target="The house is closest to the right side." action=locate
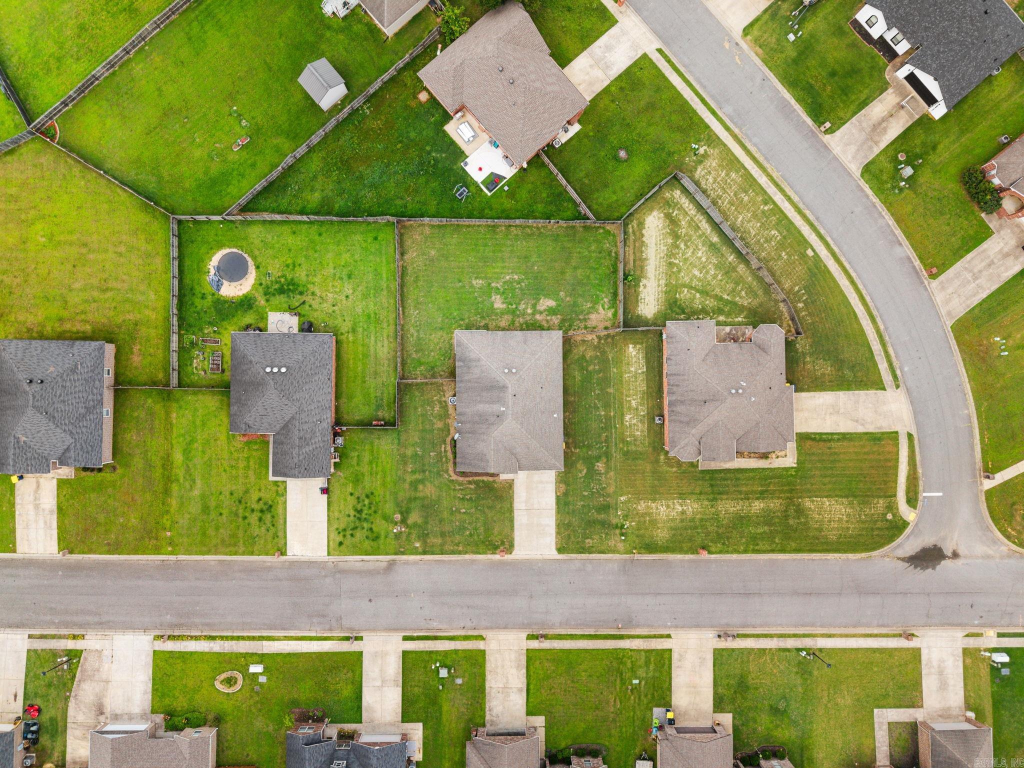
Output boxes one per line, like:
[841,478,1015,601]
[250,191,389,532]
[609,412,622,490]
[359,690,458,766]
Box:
[982,135,1024,224]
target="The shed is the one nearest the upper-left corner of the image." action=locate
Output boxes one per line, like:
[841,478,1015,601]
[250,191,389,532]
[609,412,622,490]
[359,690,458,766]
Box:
[297,57,347,109]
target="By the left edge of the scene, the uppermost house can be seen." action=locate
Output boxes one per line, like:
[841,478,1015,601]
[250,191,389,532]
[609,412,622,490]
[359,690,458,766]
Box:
[0,339,115,474]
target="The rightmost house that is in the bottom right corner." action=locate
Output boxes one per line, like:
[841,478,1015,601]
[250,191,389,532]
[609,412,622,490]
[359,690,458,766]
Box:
[918,720,993,768]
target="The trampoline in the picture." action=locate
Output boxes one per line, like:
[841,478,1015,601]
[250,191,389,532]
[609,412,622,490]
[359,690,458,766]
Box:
[217,250,250,281]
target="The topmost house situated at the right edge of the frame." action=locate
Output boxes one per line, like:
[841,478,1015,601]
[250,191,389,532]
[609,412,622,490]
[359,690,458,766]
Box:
[857,0,1024,116]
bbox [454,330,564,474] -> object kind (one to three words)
house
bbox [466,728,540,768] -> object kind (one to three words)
house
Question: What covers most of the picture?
grass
